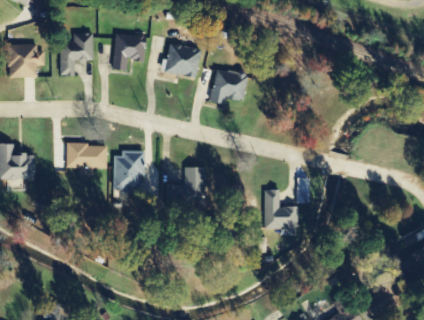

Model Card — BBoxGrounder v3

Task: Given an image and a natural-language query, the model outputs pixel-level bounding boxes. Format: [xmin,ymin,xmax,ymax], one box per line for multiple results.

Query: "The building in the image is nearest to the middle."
[164,167,204,200]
